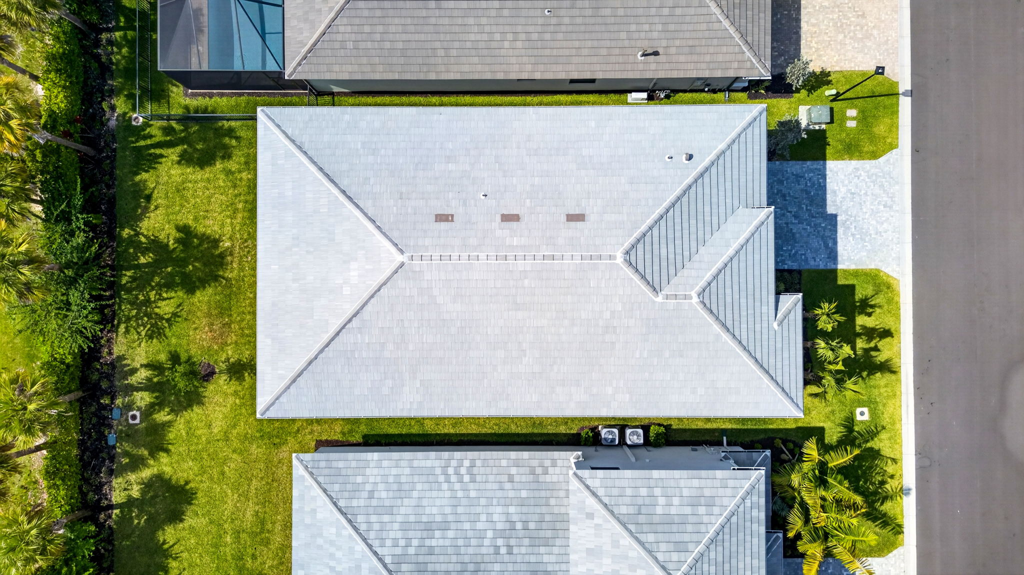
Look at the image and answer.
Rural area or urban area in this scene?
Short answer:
urban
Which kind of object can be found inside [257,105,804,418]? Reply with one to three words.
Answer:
house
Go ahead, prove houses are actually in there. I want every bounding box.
[257,105,804,418]
[291,436,784,575]
[284,0,773,100]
